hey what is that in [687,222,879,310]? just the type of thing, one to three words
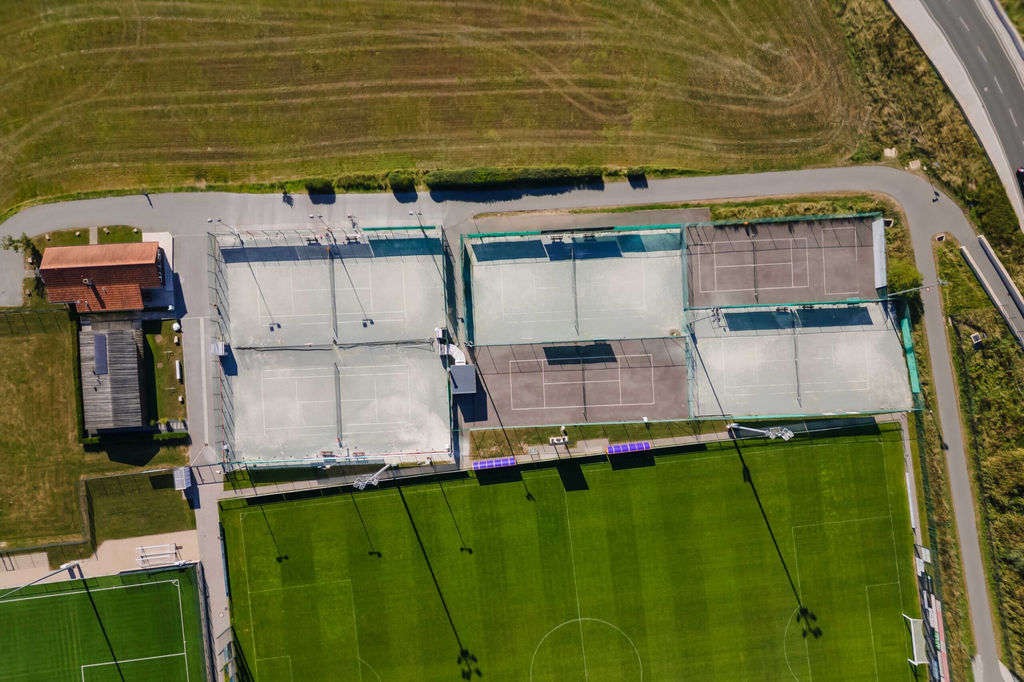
tennis court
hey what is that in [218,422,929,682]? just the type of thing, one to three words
soccer field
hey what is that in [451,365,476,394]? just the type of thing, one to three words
shed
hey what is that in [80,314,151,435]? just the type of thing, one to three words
shed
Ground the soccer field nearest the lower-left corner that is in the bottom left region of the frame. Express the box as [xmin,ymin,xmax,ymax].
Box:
[0,566,207,682]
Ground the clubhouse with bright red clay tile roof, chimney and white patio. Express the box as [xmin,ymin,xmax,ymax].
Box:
[39,231,174,319]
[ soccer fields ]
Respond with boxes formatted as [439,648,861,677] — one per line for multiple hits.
[218,422,929,682]
[0,566,207,682]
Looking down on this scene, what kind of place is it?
sports ground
